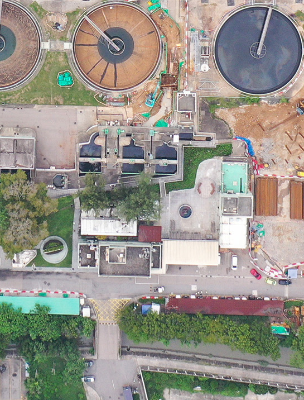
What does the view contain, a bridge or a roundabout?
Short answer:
bridge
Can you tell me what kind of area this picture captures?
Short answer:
industrial area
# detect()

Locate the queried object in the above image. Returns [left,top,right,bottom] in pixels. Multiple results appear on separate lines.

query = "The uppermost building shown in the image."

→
[177,90,196,113]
